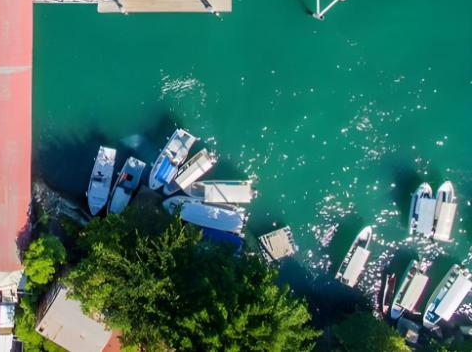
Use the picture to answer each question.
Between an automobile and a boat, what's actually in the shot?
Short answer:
boat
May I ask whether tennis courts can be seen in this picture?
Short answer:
No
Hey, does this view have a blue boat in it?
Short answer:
Yes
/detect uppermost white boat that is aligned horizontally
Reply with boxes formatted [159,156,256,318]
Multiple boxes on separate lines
[187,178,255,201]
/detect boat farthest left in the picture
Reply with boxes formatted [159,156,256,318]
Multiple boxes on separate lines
[89,146,116,214]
